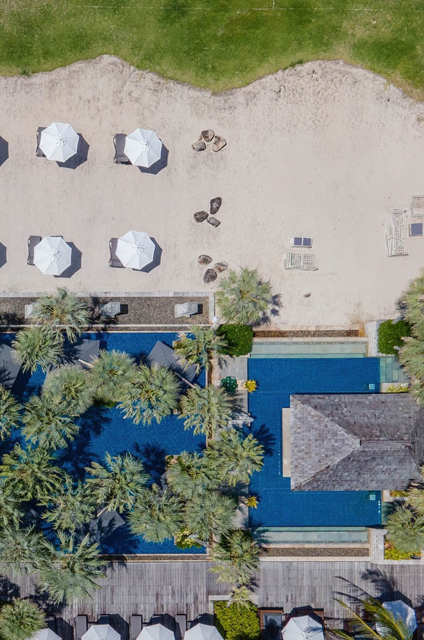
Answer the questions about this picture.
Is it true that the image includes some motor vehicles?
No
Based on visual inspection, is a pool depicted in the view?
Yes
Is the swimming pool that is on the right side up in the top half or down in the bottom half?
bottom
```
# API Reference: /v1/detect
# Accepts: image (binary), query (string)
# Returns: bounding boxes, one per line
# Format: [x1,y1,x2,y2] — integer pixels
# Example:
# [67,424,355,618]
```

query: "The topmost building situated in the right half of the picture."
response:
[291,394,424,491]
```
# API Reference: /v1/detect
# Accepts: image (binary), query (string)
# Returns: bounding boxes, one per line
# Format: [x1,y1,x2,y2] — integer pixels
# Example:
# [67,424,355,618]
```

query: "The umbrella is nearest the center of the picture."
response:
[115,231,155,270]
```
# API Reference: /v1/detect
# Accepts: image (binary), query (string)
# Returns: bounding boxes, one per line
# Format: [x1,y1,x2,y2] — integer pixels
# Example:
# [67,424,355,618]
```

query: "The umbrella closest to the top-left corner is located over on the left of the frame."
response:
[39,123,79,163]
